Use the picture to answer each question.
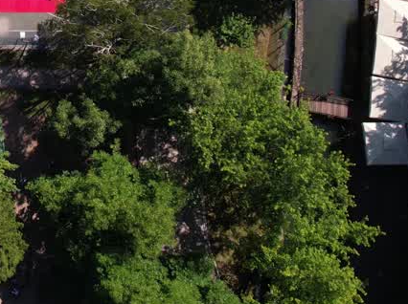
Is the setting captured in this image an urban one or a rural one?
rural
